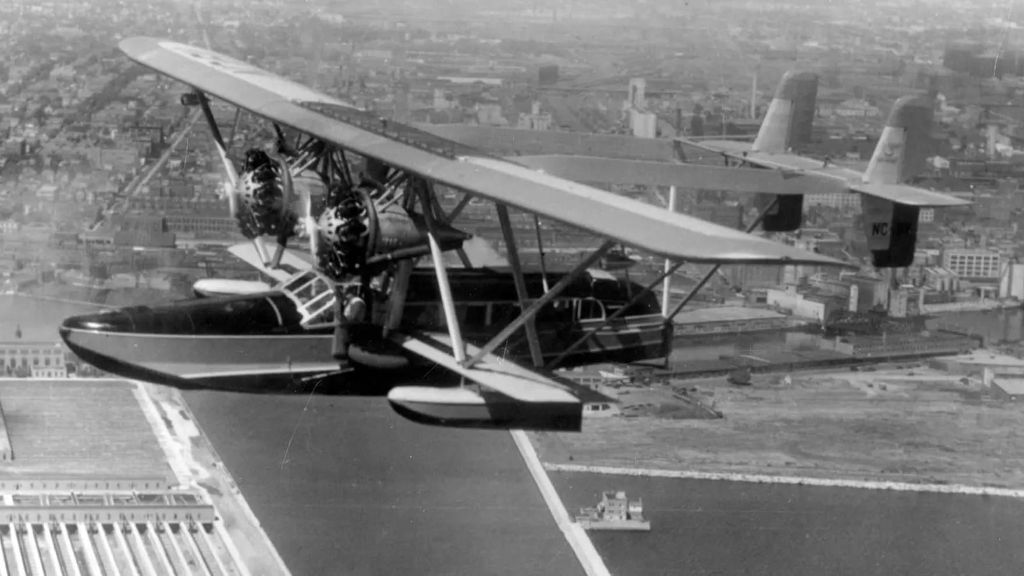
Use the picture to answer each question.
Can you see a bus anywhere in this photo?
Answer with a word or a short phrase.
No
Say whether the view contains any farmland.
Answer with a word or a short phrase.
No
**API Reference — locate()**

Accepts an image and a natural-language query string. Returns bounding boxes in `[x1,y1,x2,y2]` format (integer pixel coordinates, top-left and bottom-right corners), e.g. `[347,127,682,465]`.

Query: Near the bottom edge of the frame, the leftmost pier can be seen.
[510,429,613,576]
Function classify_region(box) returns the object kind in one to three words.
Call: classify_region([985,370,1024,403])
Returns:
building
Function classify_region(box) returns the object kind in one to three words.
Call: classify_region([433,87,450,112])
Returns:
building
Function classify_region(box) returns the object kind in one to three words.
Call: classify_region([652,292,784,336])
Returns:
shed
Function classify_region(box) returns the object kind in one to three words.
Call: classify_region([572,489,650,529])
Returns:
ship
